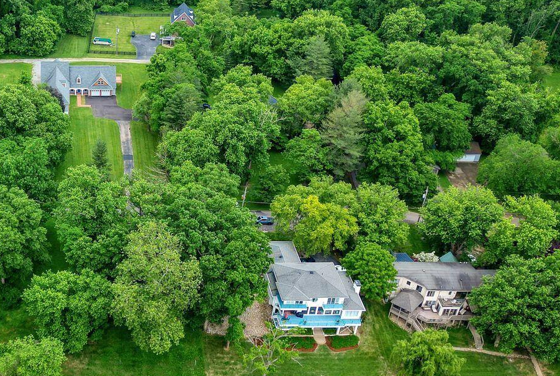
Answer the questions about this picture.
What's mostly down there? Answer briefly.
trees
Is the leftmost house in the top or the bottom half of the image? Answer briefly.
top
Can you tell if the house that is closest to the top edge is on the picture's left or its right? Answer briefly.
left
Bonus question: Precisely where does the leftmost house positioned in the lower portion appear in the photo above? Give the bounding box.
[266,240,366,338]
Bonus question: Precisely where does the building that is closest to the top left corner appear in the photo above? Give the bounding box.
[38,62,123,111]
